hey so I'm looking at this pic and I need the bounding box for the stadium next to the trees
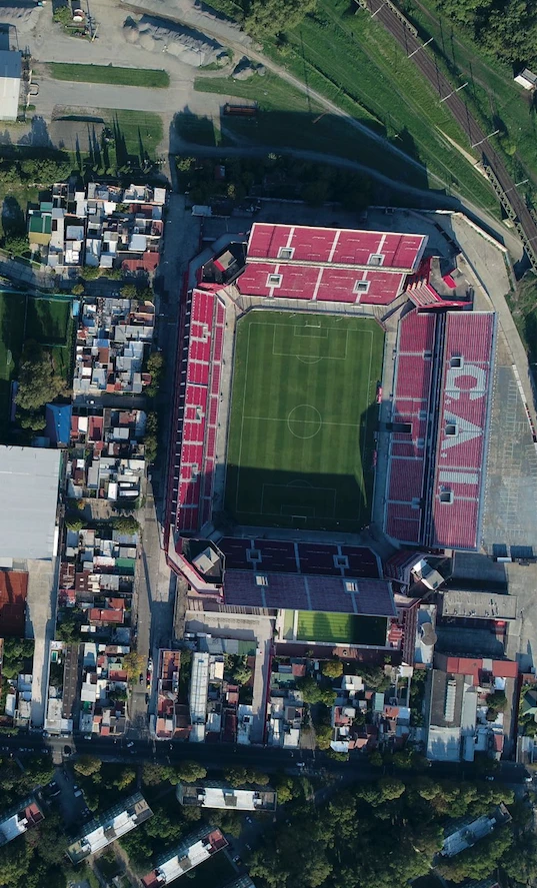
[164,222,496,629]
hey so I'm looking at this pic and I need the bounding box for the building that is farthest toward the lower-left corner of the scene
[0,790,52,846]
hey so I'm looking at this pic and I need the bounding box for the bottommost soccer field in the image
[277,610,389,652]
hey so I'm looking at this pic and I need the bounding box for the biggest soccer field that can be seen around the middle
[225,310,383,532]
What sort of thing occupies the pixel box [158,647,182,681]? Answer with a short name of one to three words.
house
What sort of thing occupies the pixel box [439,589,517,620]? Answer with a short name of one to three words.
building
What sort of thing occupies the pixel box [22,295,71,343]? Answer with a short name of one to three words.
soccer field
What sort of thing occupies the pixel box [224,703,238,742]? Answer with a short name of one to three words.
house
